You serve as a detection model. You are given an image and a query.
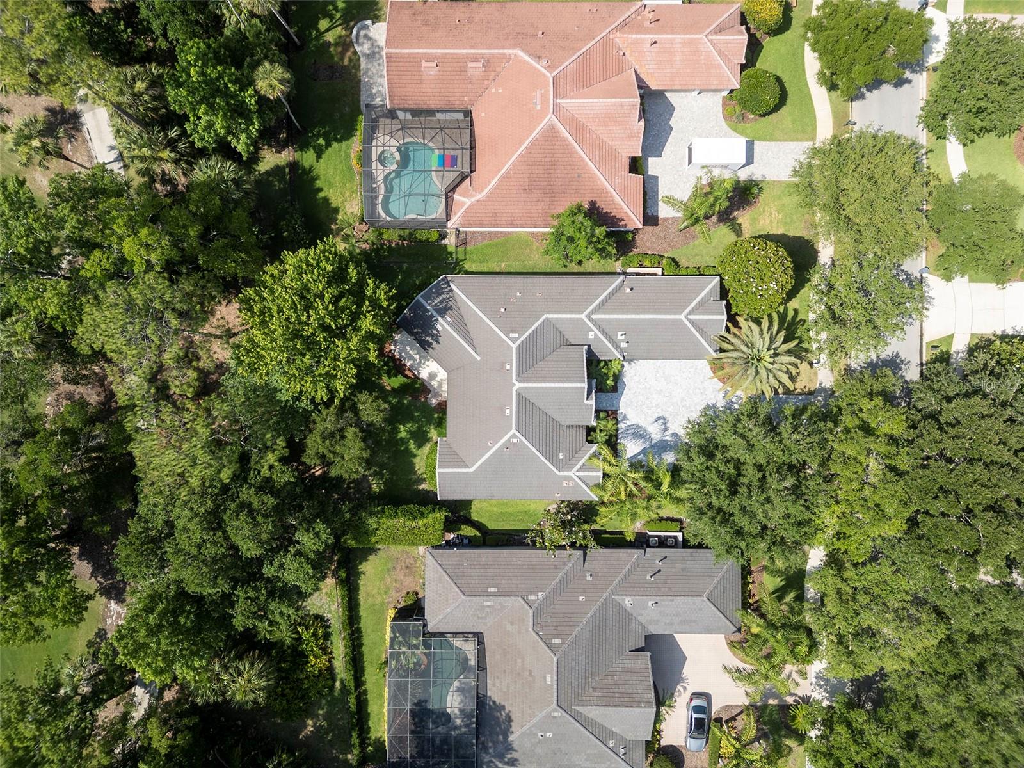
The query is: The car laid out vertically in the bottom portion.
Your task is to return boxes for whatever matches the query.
[685,695,714,755]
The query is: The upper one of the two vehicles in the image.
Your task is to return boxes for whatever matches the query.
[683,139,745,172]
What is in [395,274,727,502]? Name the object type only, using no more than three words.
house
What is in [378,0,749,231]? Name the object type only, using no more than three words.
house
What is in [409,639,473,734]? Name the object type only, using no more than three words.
swimming pool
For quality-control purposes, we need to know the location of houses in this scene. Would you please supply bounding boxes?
[378,0,749,231]
[395,274,727,502]
[425,546,741,768]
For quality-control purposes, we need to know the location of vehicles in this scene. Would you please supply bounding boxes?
[683,139,745,172]
[685,695,714,755]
